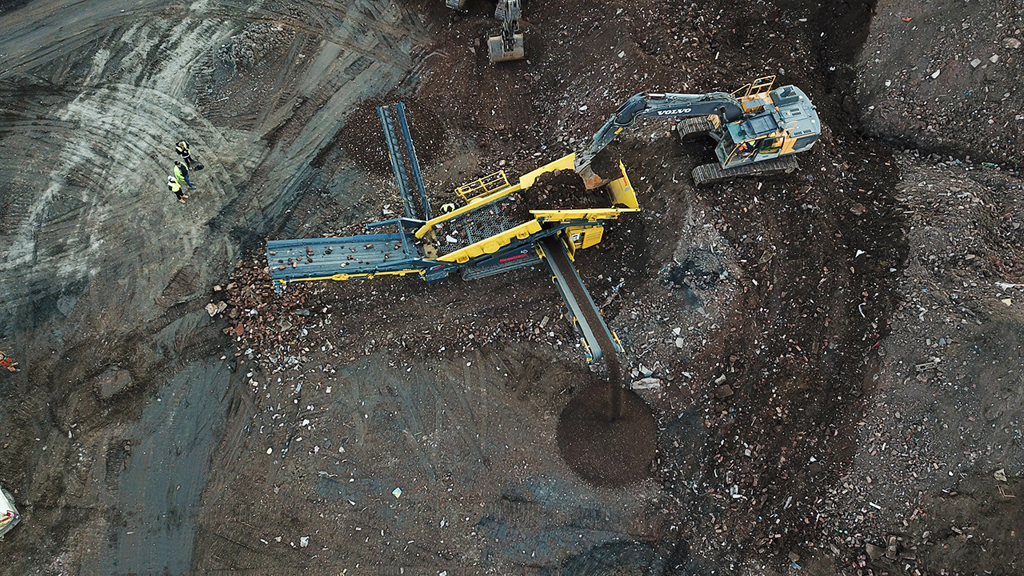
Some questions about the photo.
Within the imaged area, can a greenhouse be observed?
No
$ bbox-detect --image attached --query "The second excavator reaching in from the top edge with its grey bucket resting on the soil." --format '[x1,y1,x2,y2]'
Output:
[486,0,523,68]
